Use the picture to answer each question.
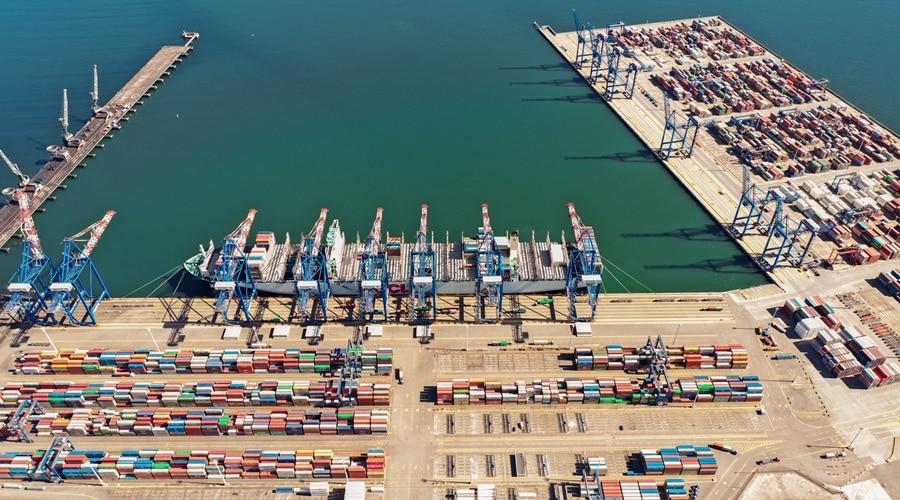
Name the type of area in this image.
port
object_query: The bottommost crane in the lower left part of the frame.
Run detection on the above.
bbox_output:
[34,437,78,485]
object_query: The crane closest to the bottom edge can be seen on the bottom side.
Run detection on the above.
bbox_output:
[577,465,605,500]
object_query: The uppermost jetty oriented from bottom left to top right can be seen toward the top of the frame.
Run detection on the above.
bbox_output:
[0,34,203,251]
